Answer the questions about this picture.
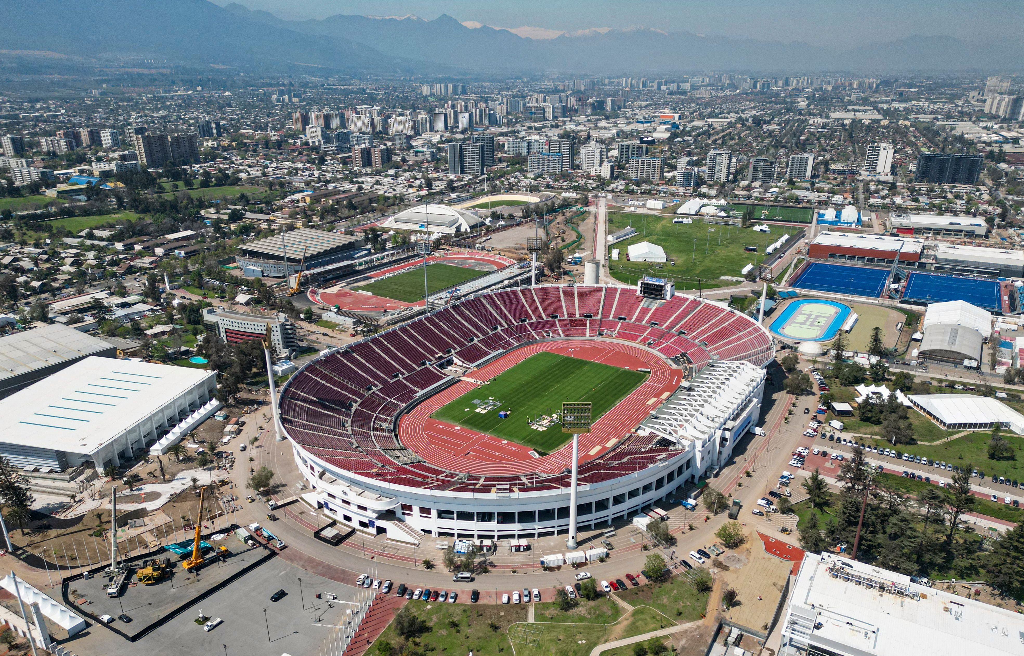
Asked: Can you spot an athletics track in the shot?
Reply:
Yes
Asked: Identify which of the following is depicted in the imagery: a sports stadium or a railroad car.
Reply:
sports stadium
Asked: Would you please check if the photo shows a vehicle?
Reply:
Yes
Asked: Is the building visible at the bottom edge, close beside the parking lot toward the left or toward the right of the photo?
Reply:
right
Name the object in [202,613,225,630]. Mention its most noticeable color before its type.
white vehicle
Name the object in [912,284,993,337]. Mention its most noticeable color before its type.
white tent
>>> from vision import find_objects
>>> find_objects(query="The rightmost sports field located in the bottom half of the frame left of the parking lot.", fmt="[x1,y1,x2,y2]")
[431,351,649,452]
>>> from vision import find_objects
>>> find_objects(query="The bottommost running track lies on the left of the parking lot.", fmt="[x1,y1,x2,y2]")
[398,340,683,477]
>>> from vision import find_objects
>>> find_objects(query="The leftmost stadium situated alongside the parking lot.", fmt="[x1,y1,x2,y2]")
[279,285,776,550]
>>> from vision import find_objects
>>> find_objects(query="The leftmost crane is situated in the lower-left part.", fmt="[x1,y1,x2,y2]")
[102,482,140,592]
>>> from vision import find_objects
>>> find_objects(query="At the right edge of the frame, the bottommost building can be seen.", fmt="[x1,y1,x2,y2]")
[777,551,1024,656]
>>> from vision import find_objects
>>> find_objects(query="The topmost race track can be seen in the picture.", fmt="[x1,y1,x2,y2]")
[433,188,571,213]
